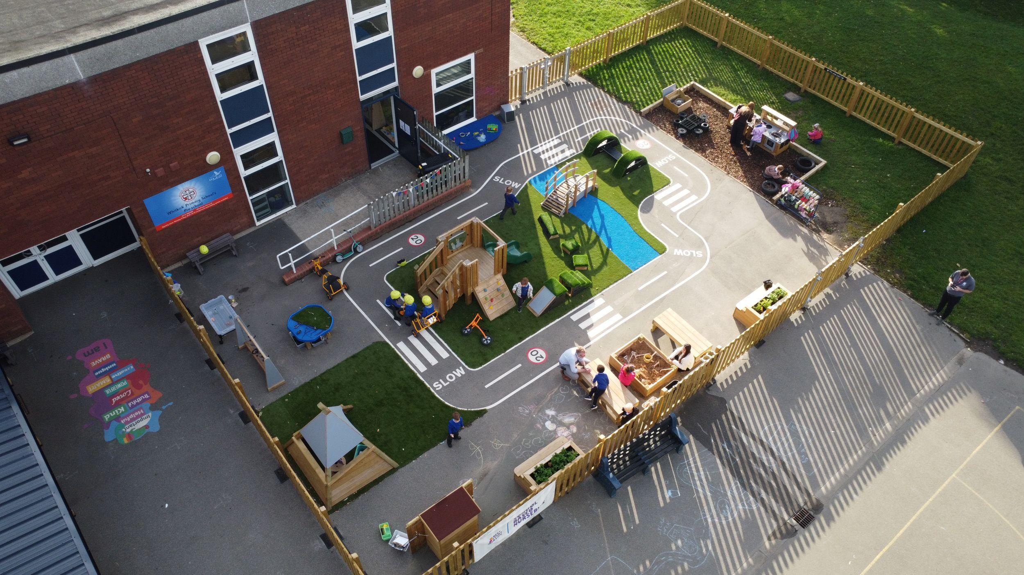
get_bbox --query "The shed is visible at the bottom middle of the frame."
[397,477,480,560]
